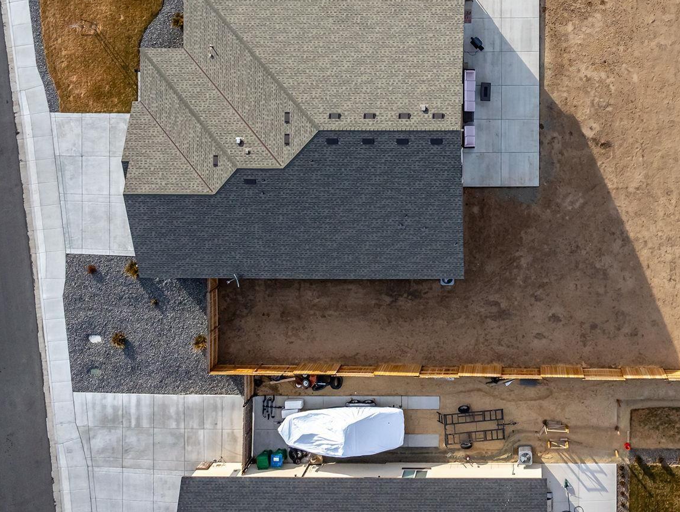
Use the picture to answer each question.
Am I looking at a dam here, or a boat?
boat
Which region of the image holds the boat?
bottom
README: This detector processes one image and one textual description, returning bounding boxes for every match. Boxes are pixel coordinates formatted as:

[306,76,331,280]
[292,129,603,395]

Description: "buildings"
[175,461,550,512]
[122,0,465,288]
